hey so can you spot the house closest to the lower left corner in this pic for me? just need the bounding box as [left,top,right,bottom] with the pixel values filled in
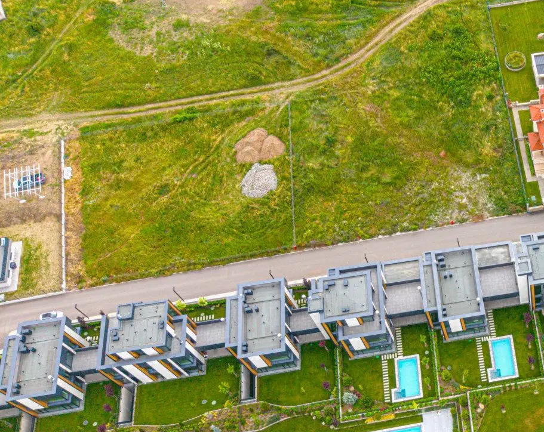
[0,317,106,422]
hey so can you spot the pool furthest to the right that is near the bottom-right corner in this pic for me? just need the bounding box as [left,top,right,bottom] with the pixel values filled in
[487,335,518,382]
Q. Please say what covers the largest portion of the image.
grass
